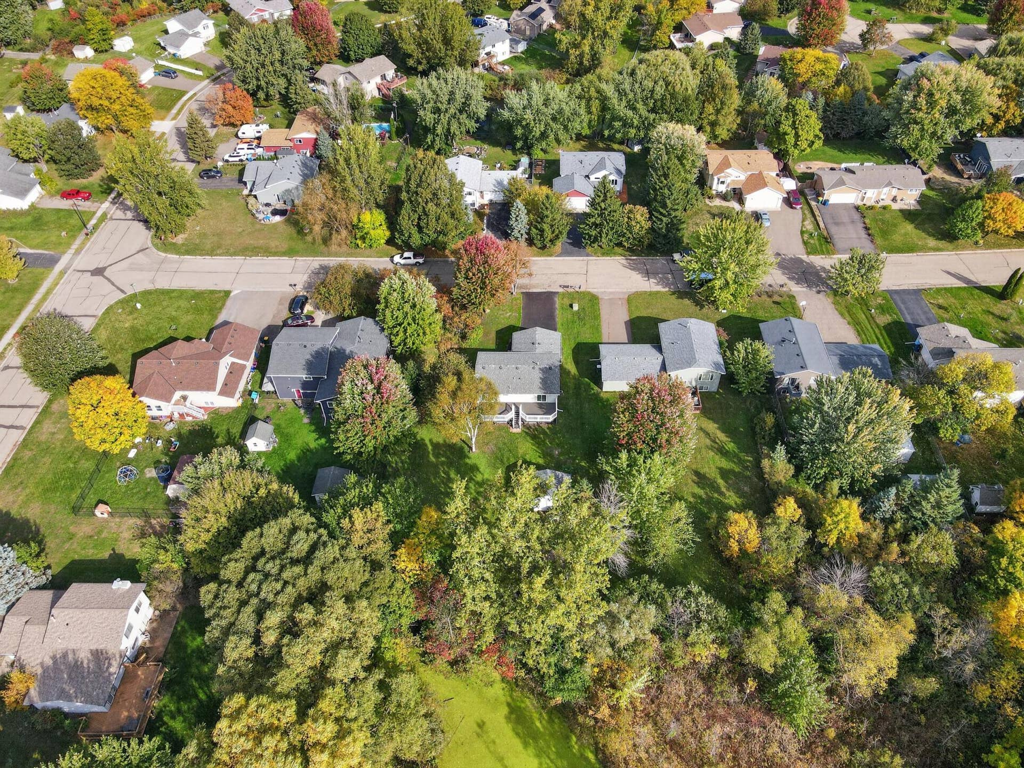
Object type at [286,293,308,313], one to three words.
car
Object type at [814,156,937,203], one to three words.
house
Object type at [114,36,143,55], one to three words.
shed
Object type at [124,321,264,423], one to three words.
house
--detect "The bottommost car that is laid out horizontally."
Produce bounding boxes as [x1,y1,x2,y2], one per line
[282,311,313,326]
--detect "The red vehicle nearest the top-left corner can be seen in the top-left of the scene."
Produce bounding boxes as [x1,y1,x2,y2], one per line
[58,187,90,200]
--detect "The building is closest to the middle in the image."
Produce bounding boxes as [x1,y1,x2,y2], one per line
[476,323,562,432]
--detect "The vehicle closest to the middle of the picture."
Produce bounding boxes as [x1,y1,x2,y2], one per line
[392,250,425,264]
